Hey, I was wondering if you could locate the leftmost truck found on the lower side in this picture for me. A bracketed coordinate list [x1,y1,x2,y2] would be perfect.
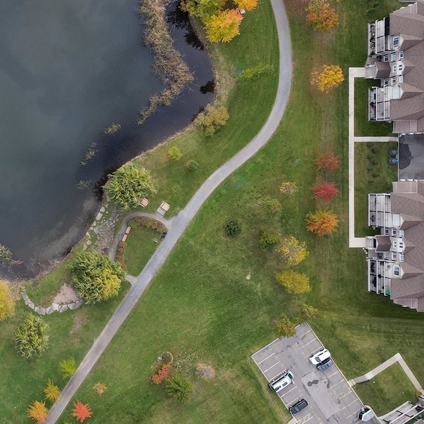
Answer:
[267,371,295,393]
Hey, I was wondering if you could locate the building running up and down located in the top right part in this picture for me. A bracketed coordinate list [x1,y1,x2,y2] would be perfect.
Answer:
[361,0,424,132]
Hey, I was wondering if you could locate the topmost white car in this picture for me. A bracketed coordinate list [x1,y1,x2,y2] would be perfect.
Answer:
[308,348,331,365]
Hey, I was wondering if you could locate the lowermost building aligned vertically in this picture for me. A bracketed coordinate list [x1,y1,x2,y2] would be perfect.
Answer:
[361,180,424,312]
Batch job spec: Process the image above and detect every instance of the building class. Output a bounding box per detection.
[361,0,424,132]
[361,180,424,312]
[380,387,424,424]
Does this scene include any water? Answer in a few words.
Yes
